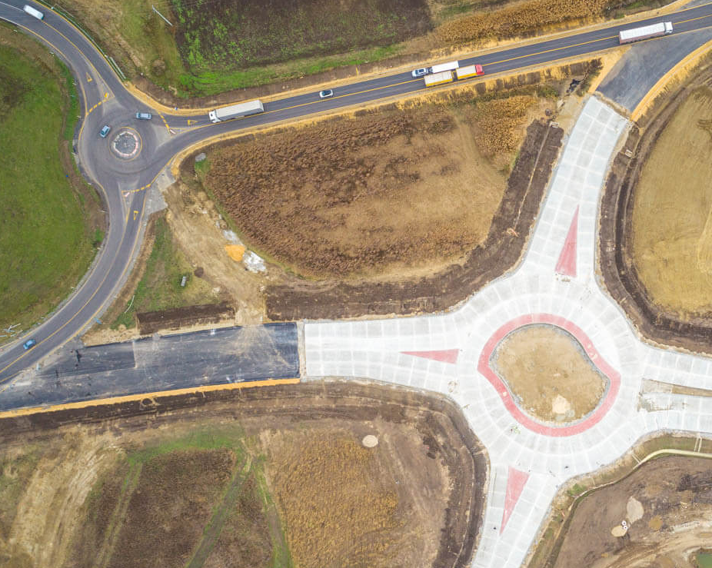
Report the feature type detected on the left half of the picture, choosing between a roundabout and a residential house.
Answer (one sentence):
What appears on the left half of the picture is a roundabout.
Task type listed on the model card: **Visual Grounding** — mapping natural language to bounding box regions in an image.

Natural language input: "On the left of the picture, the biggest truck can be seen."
[212,98,268,123]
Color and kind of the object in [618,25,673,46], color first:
white truck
